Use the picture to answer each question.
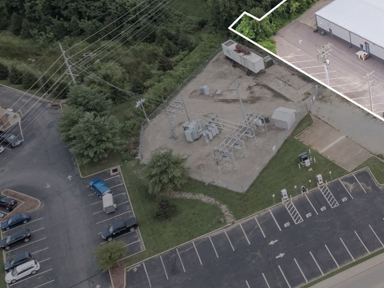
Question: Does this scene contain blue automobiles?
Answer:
Yes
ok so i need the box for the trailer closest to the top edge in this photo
[222,42,265,74]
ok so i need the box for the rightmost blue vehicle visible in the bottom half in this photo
[89,178,112,197]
